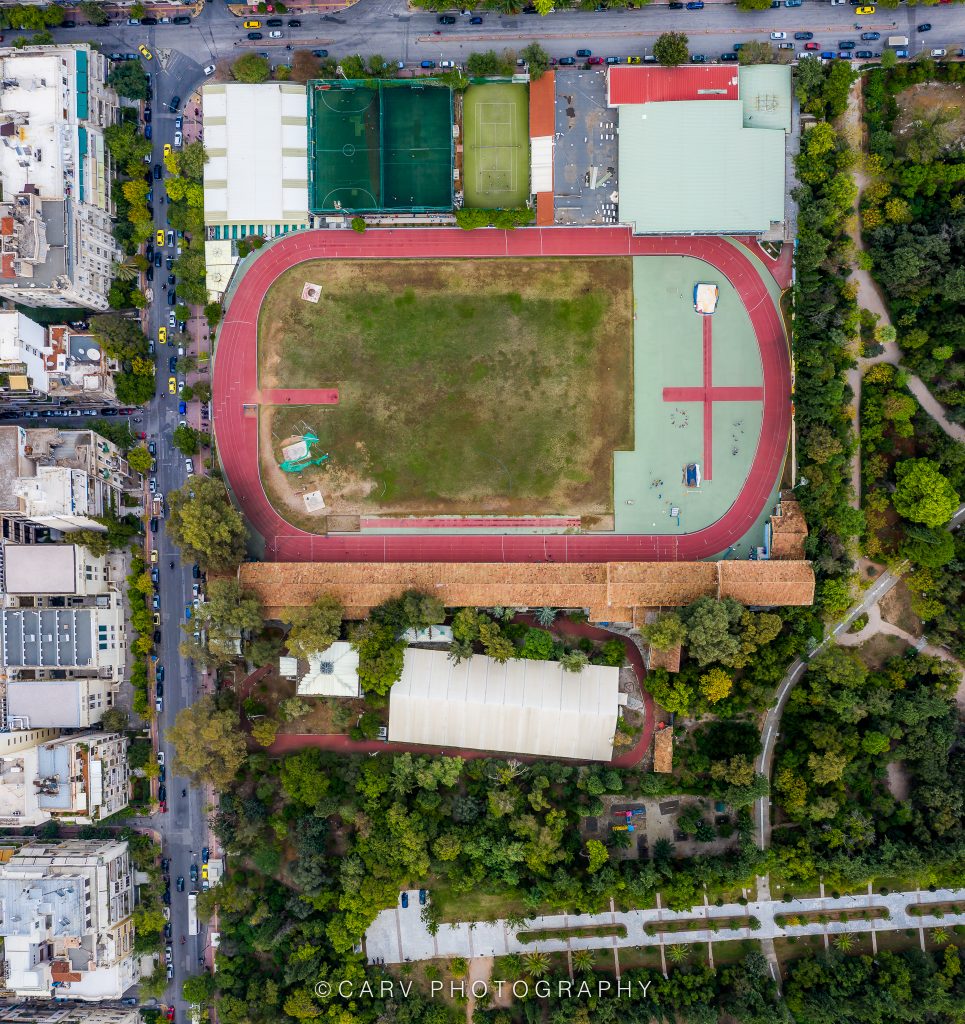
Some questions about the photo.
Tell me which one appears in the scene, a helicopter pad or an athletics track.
athletics track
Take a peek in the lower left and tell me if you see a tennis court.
No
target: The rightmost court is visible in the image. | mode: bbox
[463,83,530,209]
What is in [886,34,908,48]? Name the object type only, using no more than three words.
vehicle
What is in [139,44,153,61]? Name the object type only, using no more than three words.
car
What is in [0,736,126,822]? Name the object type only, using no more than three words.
building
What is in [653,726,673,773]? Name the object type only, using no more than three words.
shed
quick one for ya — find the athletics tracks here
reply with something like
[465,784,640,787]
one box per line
[203,225,793,562]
